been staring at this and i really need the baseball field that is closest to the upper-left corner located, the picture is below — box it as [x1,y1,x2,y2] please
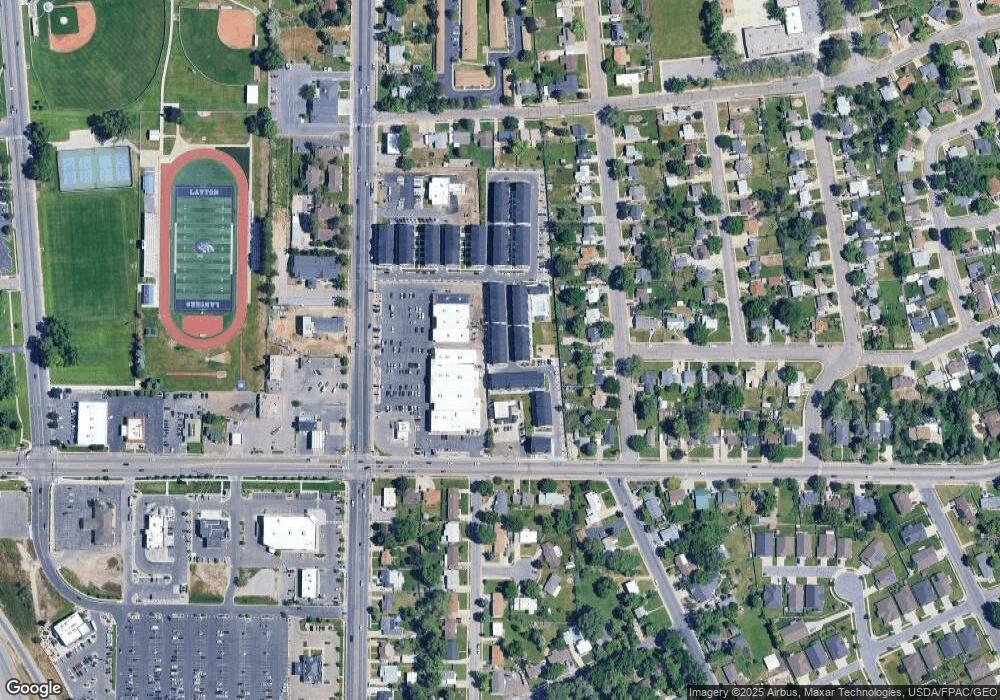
[31,0,165,109]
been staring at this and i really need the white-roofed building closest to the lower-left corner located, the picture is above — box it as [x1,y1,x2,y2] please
[53,614,87,645]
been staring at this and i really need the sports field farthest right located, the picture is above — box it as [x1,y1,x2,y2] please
[651,0,707,61]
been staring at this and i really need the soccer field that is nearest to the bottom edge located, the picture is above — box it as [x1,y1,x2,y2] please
[171,158,238,341]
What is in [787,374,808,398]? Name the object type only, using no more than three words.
house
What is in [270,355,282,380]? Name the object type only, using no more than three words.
building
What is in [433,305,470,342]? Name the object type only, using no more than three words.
building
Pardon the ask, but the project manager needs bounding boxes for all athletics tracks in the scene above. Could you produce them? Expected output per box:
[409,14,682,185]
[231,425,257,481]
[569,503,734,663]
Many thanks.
[160,148,249,350]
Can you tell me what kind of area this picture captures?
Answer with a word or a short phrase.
residential area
